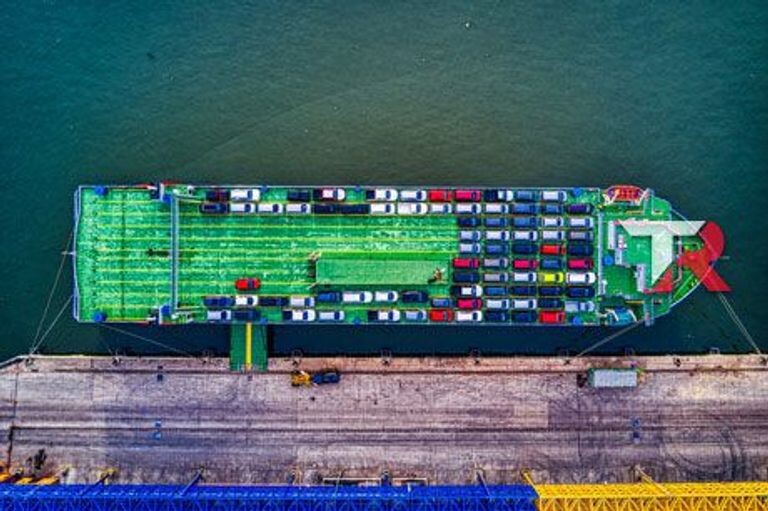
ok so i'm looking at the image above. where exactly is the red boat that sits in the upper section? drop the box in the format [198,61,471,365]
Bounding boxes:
[605,185,645,202]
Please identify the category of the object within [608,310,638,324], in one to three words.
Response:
boat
